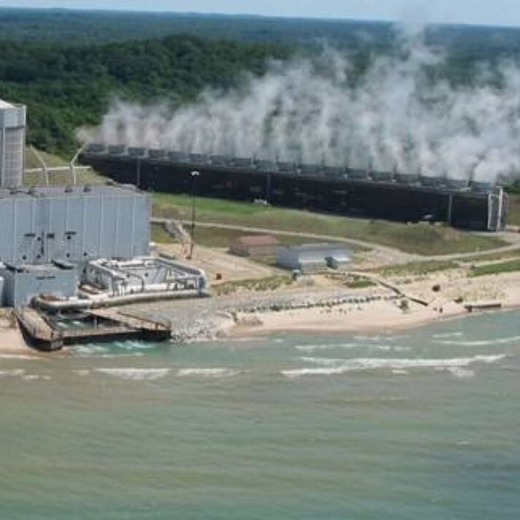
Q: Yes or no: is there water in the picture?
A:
Yes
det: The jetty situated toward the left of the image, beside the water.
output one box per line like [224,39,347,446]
[14,307,177,352]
